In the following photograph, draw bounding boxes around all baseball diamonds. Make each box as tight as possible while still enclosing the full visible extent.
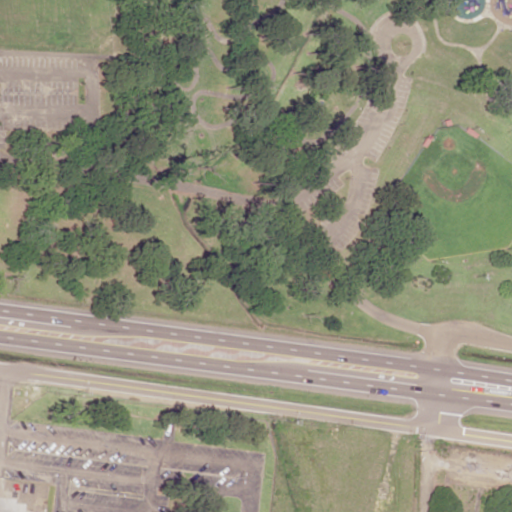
[398,126,512,260]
